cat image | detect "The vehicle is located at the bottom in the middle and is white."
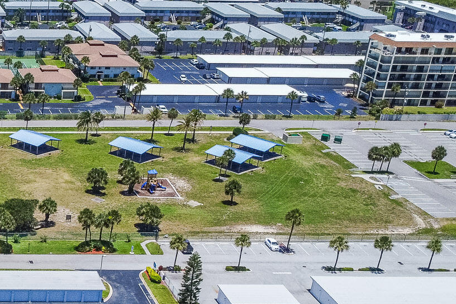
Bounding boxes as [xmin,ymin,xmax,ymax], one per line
[262,239,281,251]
